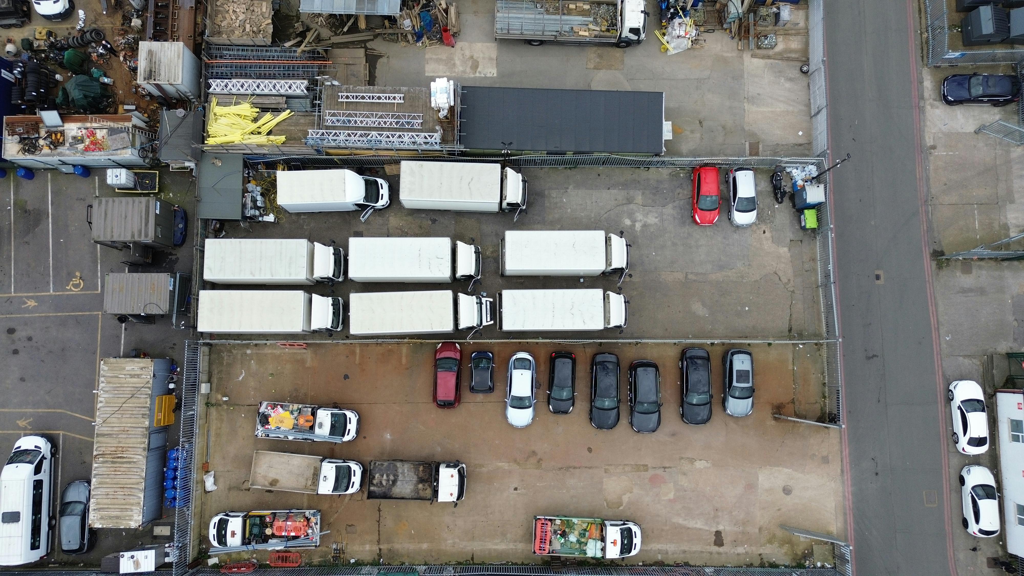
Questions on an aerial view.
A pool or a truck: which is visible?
truck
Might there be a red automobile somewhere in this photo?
Yes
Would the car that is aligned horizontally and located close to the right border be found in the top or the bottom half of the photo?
top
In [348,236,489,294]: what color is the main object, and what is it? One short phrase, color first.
white truck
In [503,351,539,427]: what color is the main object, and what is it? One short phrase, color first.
white car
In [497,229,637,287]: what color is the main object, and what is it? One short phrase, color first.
white truck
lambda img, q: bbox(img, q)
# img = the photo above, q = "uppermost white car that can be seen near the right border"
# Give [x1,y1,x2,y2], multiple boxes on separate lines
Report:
[946,381,988,454]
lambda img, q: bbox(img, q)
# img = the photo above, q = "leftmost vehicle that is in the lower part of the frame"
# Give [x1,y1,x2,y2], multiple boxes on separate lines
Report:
[0,435,59,574]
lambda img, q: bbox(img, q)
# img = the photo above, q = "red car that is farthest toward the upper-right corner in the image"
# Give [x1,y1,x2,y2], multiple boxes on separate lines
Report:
[690,167,724,226]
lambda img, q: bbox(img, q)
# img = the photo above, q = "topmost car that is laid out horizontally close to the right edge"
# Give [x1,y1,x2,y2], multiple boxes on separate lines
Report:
[938,70,1024,108]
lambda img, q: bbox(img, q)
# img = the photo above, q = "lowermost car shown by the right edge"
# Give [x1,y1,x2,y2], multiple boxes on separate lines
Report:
[957,465,1000,536]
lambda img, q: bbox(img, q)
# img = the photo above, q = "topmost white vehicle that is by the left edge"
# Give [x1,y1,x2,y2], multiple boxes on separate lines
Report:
[33,0,73,21]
